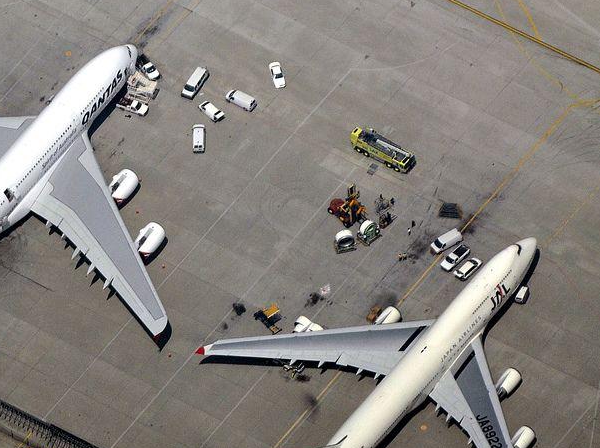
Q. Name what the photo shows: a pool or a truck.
truck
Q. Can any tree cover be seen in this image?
No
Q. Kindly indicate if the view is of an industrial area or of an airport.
airport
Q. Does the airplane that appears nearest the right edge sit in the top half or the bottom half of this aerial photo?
bottom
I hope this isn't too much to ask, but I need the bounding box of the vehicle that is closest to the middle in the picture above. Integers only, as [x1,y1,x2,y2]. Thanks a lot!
[328,197,373,224]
